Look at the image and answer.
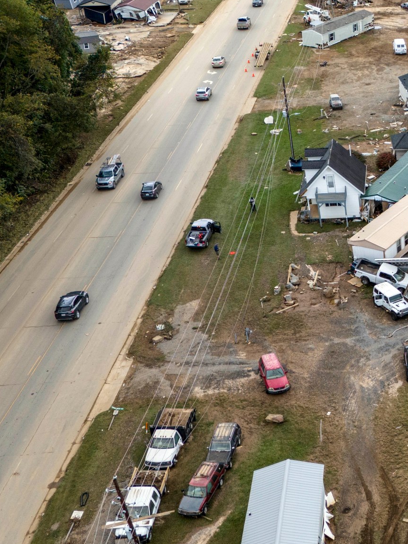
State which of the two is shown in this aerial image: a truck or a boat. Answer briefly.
truck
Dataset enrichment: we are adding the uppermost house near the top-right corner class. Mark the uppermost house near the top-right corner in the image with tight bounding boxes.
[300,9,376,51]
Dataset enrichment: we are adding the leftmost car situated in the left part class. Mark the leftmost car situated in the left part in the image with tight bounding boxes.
[53,292,89,321]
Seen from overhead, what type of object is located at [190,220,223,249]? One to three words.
truck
